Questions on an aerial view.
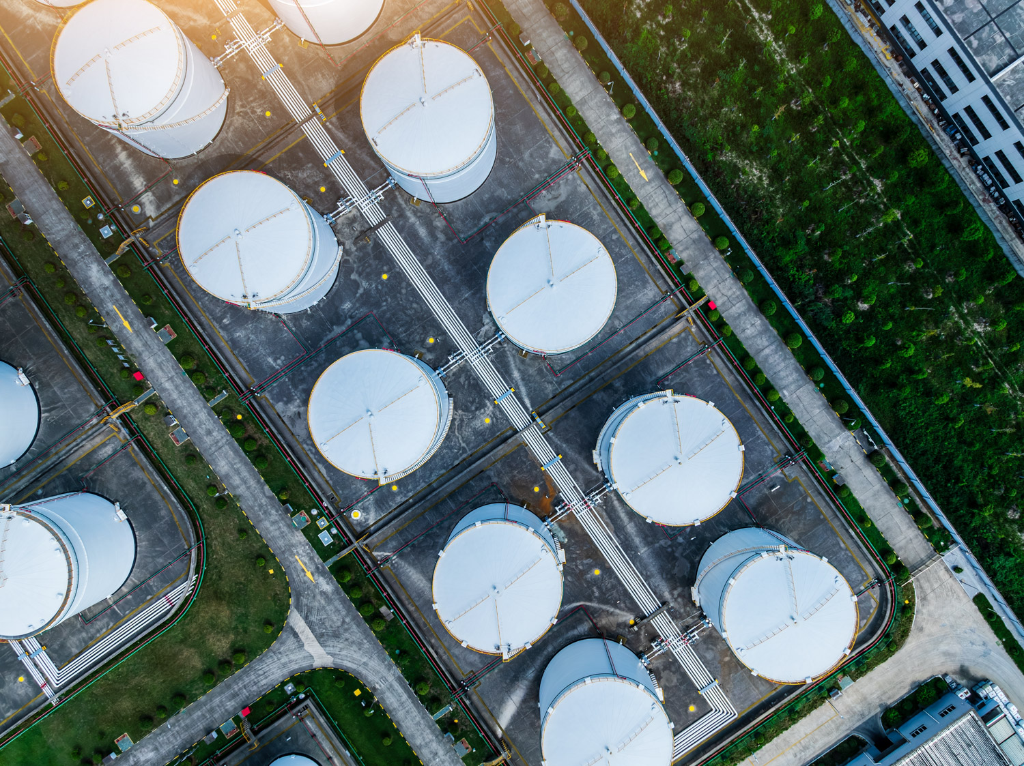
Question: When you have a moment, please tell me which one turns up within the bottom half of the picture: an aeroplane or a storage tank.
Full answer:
You can see a storage tank within the bottom half of the picture.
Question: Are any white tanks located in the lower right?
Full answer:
Yes, you'll find a white tank in the lower right.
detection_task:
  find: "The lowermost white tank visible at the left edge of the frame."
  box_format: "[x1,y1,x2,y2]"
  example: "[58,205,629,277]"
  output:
[0,491,135,650]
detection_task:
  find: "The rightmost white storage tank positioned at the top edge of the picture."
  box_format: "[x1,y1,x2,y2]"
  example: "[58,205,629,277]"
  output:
[360,30,499,208]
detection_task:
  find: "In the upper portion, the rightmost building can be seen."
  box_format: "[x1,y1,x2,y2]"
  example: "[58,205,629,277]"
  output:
[863,0,1024,225]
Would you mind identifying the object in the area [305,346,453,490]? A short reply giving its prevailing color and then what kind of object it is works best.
white storage tank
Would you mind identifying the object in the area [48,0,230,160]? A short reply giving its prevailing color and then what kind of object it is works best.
white storage tank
